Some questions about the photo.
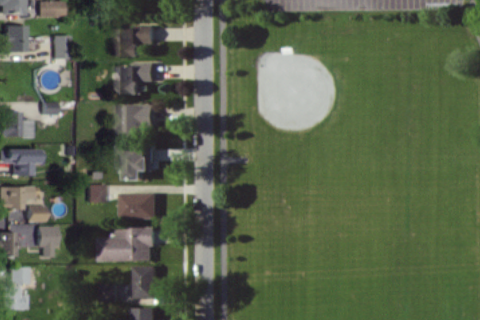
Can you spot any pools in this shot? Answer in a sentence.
Yes, I can see a pool in this picture.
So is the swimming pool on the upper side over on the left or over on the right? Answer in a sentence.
The swimming pool on the upper side is on the left side of the image.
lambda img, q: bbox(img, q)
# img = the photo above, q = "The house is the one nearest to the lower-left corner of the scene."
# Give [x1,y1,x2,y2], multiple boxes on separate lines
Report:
[11,268,32,312]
